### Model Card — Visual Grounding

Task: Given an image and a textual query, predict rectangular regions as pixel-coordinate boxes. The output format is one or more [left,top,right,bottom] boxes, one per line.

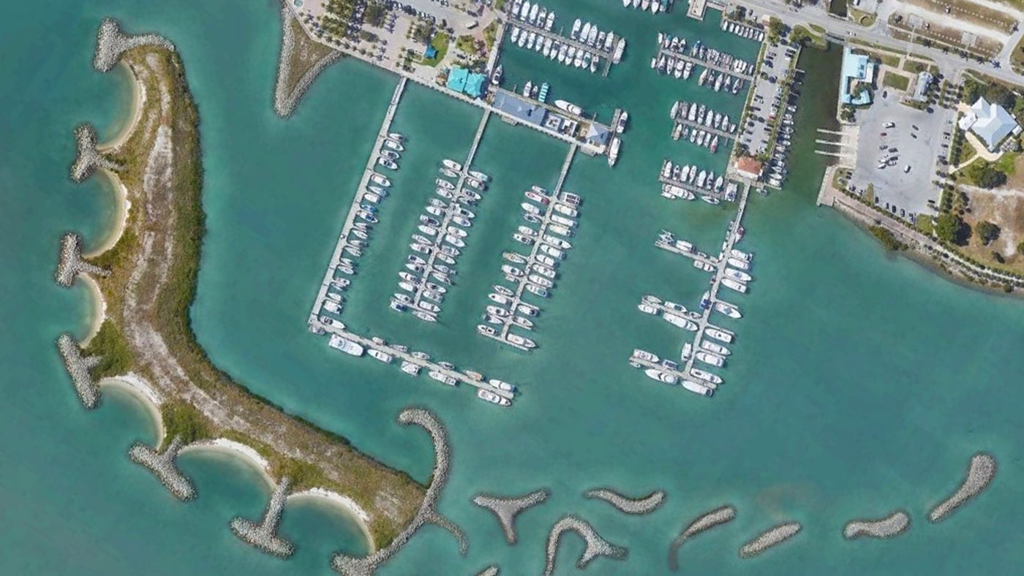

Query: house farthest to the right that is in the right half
[962,96,1023,152]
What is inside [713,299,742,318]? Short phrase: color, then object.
white boat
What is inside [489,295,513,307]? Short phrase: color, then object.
white boat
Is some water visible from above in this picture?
Yes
